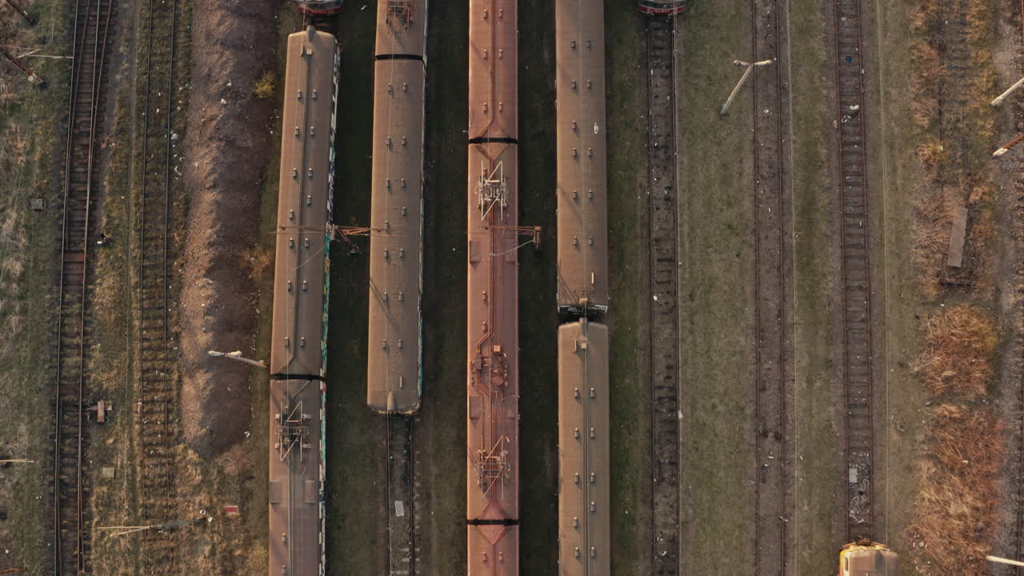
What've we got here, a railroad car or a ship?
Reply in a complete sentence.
Looking from above, you can make out a railroad car.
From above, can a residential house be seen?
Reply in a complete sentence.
No, the photo shows no residential house.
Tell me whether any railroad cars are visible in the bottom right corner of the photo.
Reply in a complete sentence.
Yes, I can see a railroad car in the bottom right corner of the photo.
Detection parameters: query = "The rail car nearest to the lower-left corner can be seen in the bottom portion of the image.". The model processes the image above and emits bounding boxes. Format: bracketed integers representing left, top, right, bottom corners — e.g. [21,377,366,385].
[271,380,327,576]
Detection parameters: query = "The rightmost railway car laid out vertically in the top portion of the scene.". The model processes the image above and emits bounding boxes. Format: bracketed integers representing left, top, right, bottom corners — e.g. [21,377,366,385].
[554,0,607,311]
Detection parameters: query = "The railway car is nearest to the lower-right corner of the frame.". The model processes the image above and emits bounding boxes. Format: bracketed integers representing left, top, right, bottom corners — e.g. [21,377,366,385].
[843,530,904,576]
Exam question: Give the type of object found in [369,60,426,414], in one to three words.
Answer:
rail car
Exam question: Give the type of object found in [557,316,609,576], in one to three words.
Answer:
rail car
